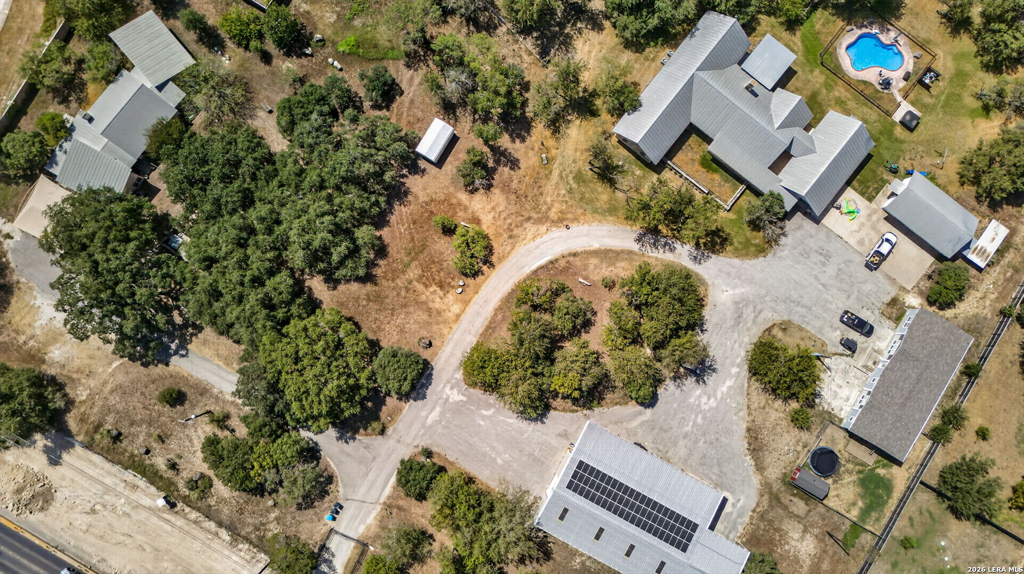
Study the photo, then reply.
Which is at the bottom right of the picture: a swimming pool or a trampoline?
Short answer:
trampoline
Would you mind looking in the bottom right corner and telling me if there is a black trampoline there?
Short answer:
Yes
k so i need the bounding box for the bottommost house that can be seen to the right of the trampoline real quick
[841,307,974,462]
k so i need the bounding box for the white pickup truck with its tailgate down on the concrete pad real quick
[863,230,896,269]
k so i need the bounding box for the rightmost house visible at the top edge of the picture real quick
[613,10,876,216]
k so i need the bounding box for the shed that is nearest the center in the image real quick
[416,118,454,164]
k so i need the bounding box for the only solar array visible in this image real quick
[566,460,699,554]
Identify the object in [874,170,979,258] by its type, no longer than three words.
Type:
building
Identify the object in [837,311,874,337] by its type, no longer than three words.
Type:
truck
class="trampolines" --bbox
[807,445,844,479]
